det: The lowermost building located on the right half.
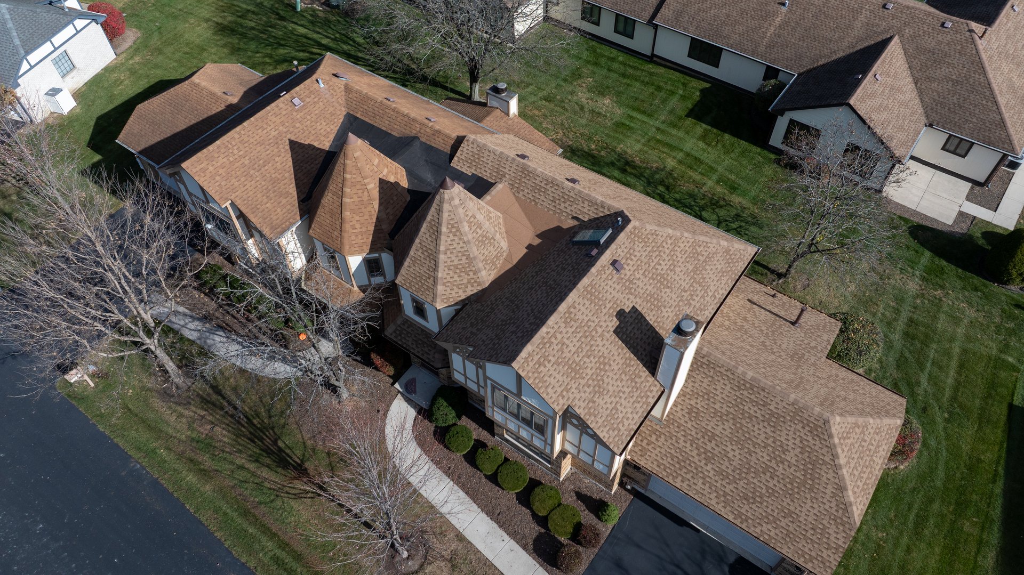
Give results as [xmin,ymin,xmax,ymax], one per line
[384,132,907,575]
